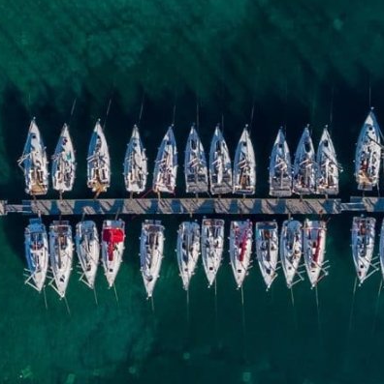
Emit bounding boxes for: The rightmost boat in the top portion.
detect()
[354,98,384,199]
